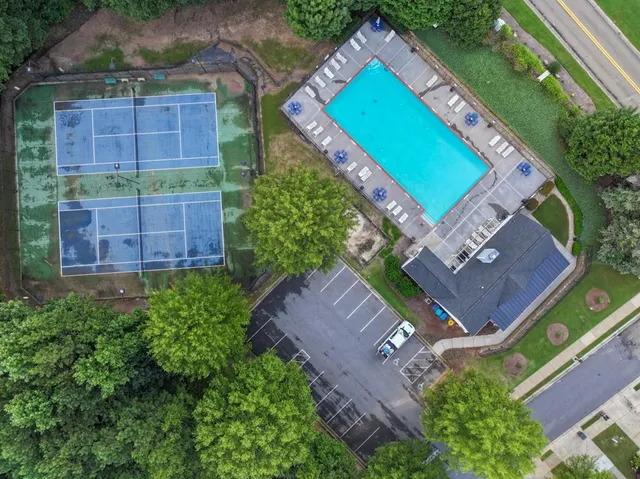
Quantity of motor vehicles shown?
1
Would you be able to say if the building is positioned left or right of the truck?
to the right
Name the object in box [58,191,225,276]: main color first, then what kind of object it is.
blue tennis court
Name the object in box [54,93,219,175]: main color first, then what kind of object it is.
blue tennis court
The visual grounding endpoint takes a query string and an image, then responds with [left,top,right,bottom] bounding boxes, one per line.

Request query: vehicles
[378,321,414,360]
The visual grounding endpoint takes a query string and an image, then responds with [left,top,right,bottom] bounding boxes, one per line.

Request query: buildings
[401,211,571,338]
